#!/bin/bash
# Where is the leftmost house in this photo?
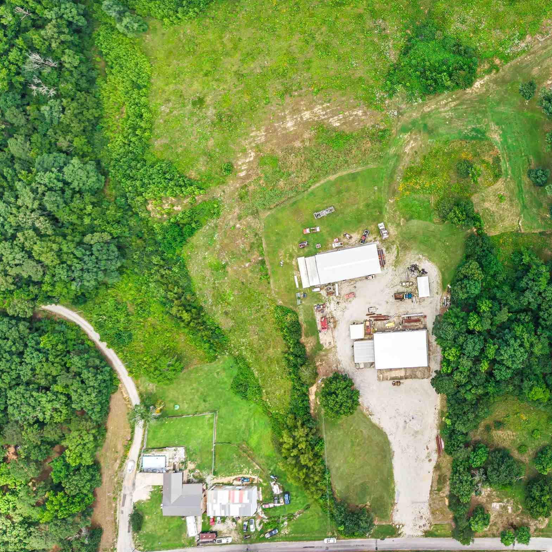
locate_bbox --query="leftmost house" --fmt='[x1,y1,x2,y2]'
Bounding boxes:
[163,471,204,516]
